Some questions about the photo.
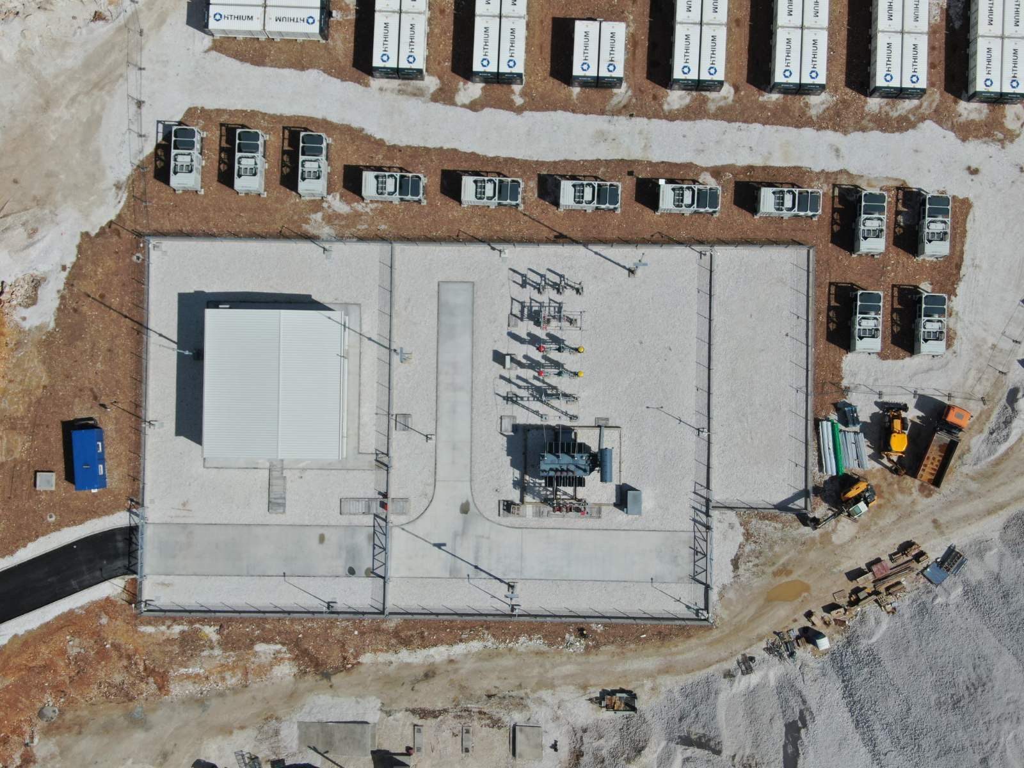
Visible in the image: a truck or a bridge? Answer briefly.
truck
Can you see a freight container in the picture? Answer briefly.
Yes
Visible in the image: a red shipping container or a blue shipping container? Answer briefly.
blue shipping container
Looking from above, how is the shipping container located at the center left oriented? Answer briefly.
vertically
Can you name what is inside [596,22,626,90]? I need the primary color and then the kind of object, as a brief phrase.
white shipping container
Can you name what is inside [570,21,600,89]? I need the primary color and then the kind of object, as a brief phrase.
white shipping container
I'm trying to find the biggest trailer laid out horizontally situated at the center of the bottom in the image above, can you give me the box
[589,690,638,714]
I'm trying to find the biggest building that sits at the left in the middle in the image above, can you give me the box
[204,306,354,460]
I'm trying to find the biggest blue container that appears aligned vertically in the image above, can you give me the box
[72,421,108,491]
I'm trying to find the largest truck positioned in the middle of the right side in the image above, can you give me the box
[910,402,976,493]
